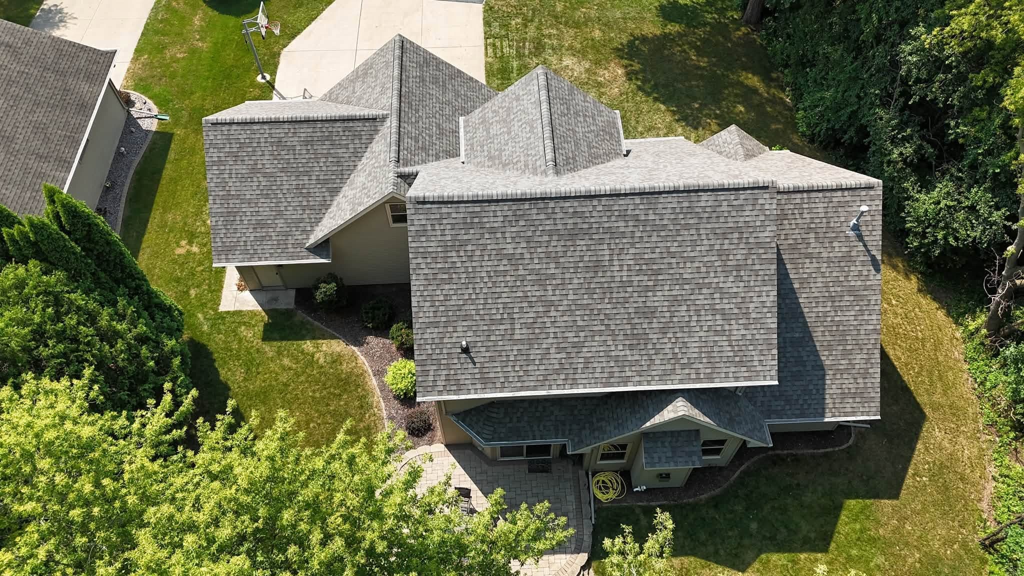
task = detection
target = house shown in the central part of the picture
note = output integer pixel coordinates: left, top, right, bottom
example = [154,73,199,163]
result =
[204,34,883,519]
